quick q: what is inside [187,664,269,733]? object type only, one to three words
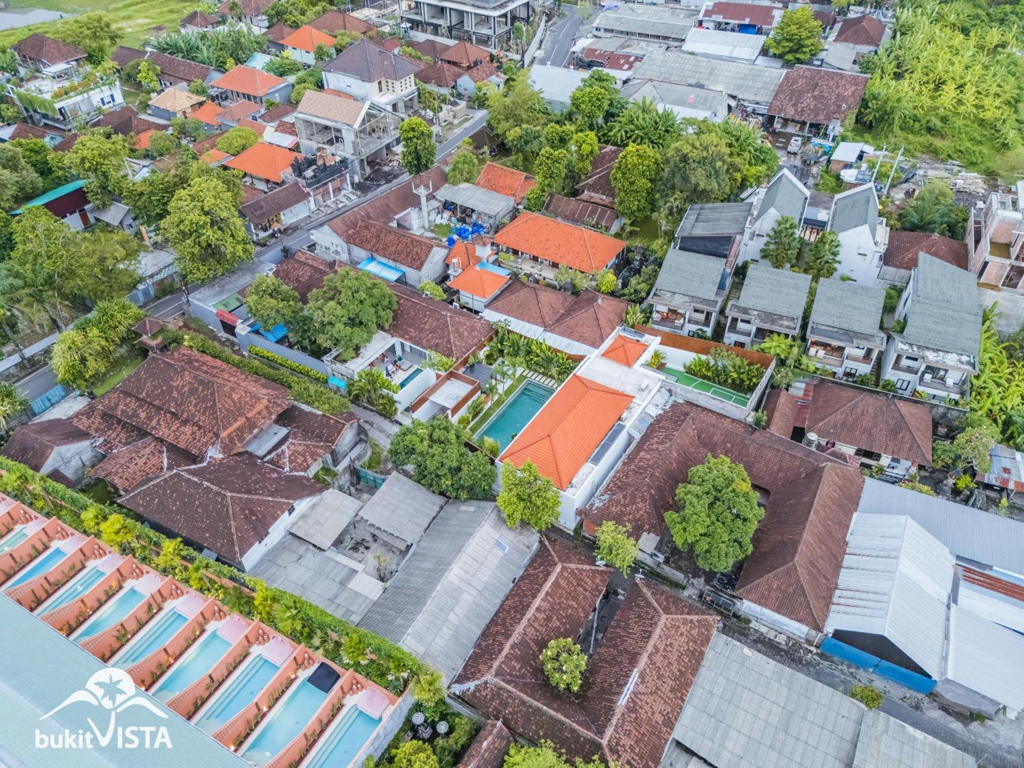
swimming pool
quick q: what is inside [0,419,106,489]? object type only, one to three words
house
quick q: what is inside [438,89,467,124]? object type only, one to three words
building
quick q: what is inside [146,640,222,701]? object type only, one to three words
swimming pool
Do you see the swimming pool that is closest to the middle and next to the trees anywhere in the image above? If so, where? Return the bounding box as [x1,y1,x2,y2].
[474,378,556,450]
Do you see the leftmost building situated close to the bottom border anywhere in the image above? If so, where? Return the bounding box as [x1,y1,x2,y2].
[0,589,262,768]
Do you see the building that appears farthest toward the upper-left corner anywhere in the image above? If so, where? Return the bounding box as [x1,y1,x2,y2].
[13,32,88,79]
